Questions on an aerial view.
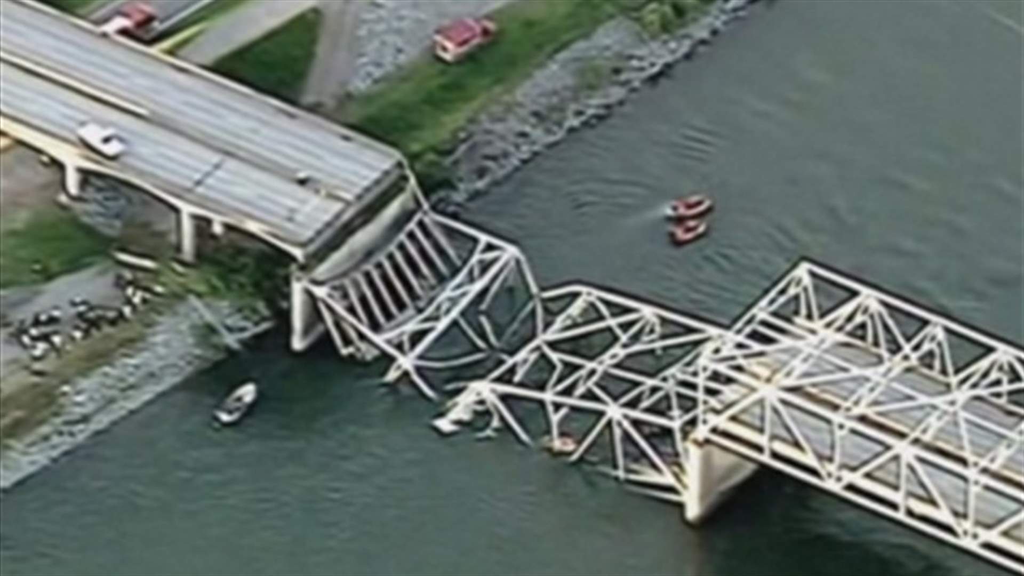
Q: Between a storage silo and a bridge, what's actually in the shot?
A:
bridge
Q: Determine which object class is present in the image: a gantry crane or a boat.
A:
boat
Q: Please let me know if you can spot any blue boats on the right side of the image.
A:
No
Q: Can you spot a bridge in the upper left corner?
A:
Yes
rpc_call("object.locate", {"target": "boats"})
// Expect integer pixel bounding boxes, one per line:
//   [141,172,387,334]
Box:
[208,385,256,429]
[668,195,716,219]
[668,221,709,244]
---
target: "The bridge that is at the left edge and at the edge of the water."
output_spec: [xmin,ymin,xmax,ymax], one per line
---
[0,0,407,271]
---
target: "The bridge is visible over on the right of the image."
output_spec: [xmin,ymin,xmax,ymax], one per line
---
[693,263,1024,566]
